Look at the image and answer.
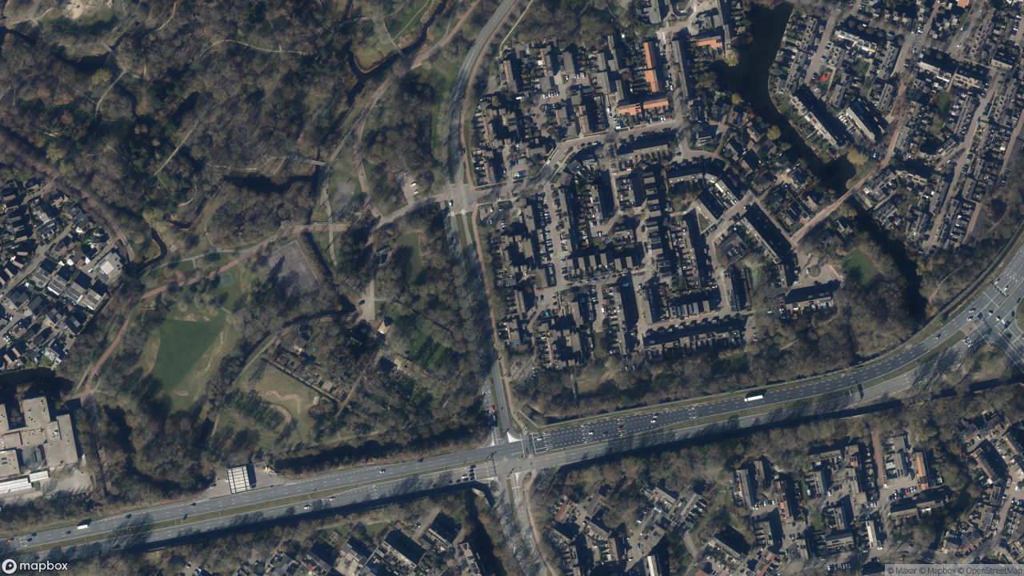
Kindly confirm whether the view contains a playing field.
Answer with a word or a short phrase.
Yes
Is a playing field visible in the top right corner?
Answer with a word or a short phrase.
No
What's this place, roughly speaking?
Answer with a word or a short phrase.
residential area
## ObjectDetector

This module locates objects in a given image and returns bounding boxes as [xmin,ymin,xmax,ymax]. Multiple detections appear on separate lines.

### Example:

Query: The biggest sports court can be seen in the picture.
[263,240,318,302]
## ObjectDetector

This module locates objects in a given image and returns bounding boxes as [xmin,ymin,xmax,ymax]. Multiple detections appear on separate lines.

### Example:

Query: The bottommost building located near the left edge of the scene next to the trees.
[0,396,78,493]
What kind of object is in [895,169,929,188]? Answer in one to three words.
building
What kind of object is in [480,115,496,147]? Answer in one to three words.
house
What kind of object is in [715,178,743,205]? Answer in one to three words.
building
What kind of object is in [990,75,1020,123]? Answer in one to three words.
house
